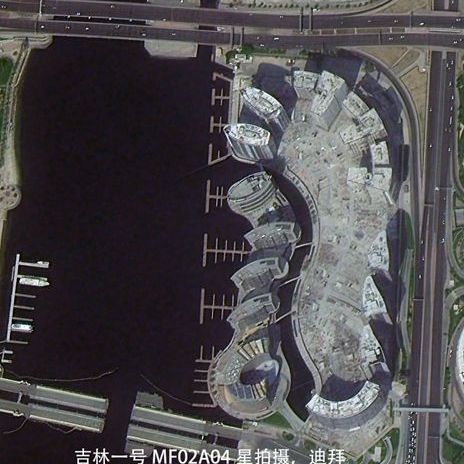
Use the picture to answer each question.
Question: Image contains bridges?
Yes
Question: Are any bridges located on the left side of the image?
Yes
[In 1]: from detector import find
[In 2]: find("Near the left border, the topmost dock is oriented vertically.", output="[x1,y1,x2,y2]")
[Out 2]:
[0,254,48,344]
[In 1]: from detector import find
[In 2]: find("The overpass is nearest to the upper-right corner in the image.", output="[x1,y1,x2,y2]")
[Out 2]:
[422,14,464,49]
